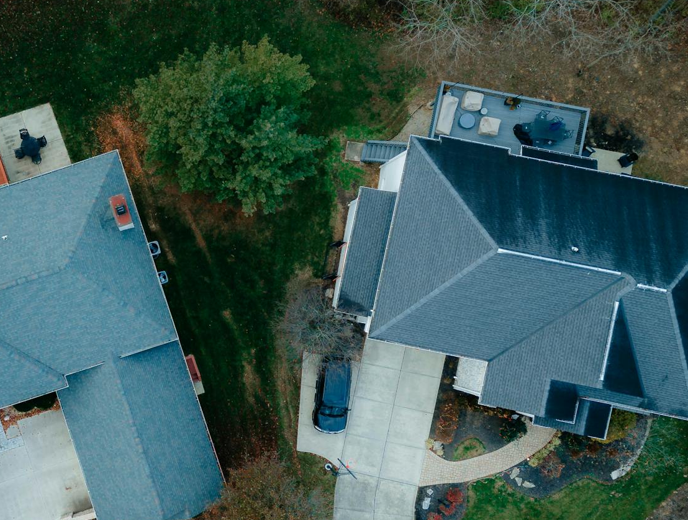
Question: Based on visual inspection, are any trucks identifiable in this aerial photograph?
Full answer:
No, no truck is visible in the view.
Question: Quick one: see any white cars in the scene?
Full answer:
No, there appears to be no white car in this shot.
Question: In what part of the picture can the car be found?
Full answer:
The car appears toward the bottom of the photo.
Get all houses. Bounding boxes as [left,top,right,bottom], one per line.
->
[0,148,228,520]
[324,133,688,441]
